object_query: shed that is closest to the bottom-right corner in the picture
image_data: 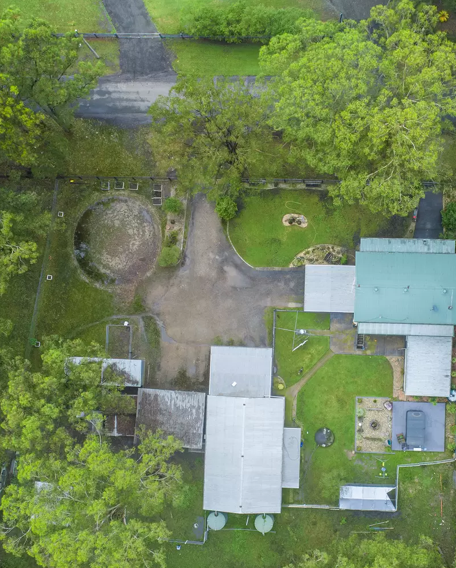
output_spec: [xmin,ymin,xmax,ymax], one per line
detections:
[340,484,397,512]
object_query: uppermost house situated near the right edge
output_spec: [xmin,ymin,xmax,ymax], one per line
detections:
[354,239,456,339]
